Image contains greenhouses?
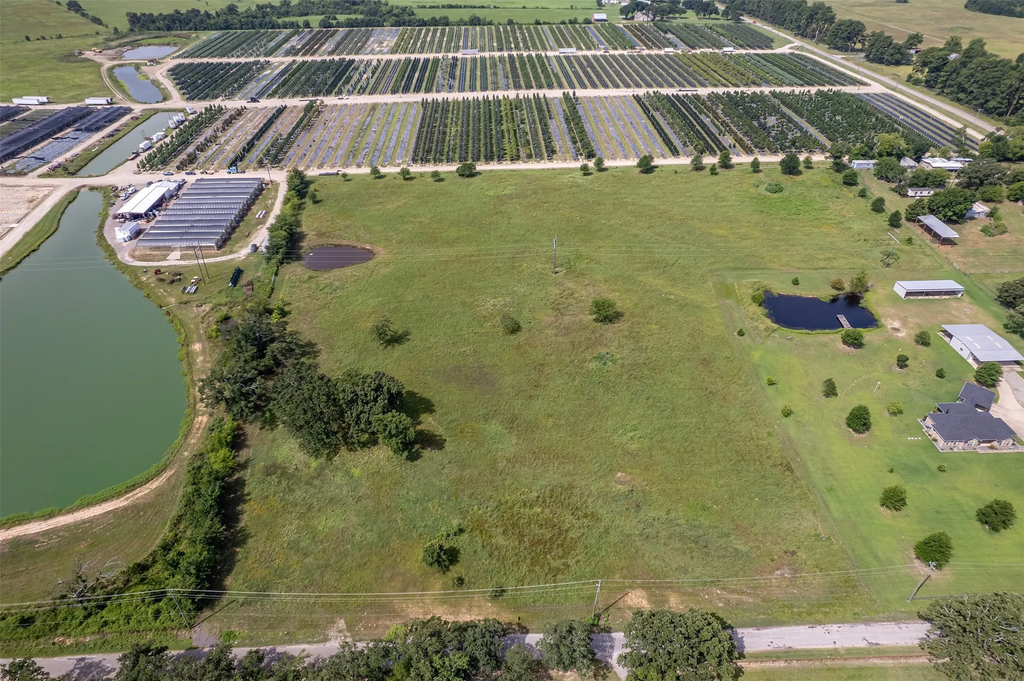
Yes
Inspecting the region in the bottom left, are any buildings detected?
No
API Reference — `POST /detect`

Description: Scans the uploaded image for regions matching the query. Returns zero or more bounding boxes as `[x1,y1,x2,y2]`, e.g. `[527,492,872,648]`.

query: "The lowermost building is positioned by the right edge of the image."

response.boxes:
[915,377,1022,446]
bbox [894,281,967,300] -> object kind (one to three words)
shed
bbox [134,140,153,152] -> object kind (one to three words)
vehicle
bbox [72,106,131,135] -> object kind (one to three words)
house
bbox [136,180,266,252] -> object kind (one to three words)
greenhouse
